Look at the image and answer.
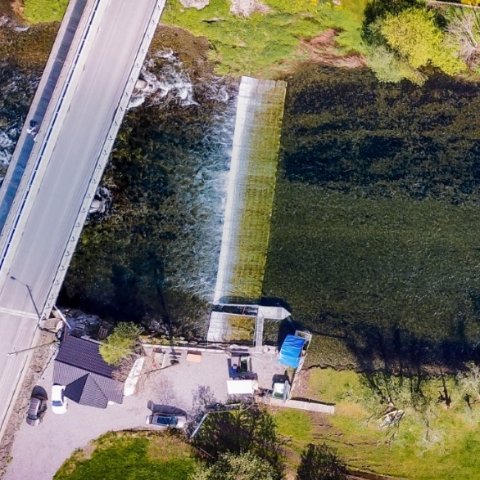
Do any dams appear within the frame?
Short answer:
Yes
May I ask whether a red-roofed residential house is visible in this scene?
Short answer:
No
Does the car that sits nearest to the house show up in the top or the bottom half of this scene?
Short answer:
bottom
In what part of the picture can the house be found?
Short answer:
bottom left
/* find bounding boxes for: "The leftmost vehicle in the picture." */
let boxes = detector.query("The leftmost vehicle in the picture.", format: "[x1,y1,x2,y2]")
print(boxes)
[21,398,44,430]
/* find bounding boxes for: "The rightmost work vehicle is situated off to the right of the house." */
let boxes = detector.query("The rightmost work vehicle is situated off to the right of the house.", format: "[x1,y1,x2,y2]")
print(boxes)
[269,380,288,405]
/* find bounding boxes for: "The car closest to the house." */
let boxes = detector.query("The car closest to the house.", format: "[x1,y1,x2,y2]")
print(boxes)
[45,384,66,418]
